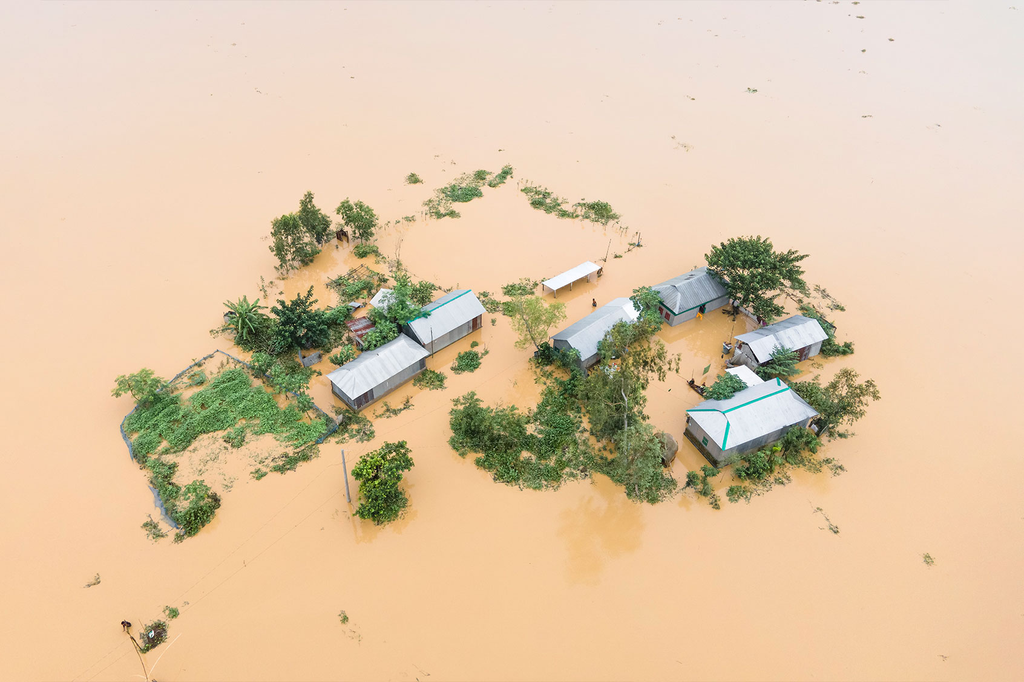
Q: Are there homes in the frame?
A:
Yes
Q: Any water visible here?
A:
Yes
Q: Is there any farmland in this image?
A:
No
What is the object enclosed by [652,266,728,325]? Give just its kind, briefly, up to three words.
house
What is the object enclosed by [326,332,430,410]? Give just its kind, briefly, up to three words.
house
